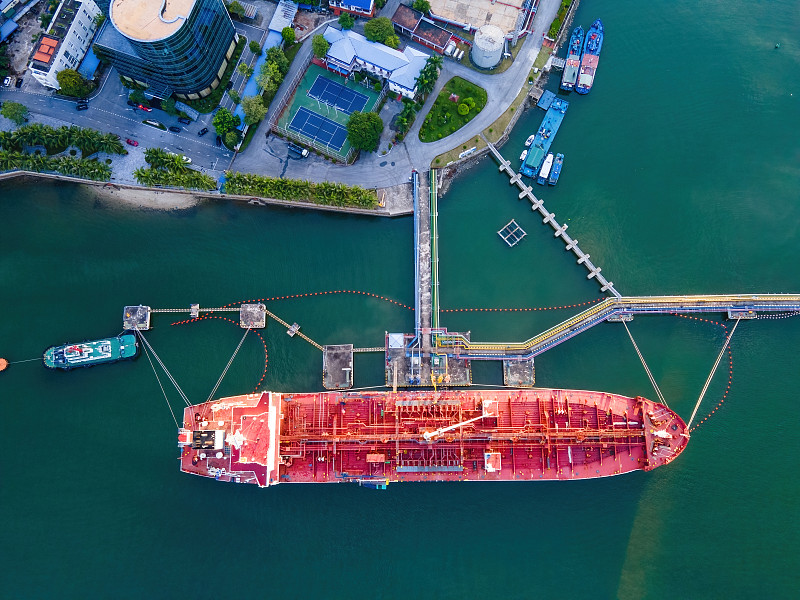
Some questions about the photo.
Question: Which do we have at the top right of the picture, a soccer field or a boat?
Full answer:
Visible at the top right of the picture is a boat.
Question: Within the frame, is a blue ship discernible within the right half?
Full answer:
Yes, the scene does show a blue ship within the right half.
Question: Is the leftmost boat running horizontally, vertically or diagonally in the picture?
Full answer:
In this picture, the leftmost boat is oriented horizontally.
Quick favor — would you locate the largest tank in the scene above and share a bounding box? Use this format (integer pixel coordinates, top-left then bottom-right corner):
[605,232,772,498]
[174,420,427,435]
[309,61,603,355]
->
[470,23,516,69]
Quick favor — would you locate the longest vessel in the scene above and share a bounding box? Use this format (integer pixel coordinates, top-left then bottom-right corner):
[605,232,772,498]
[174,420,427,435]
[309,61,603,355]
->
[173,390,695,488]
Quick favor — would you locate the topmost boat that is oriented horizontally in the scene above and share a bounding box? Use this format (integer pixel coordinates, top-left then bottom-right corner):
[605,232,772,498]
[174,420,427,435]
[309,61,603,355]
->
[42,332,141,371]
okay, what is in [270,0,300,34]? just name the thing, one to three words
shed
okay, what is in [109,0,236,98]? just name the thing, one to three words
building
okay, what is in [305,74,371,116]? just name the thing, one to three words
tennis court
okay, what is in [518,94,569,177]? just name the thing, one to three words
ship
